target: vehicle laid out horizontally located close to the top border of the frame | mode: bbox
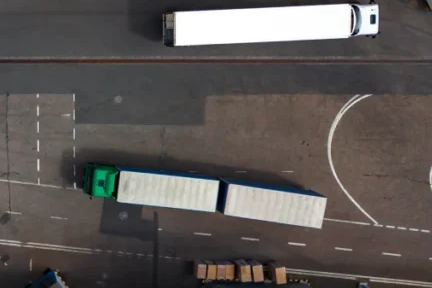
[159,0,378,46]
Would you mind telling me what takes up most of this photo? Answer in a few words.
paved ground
